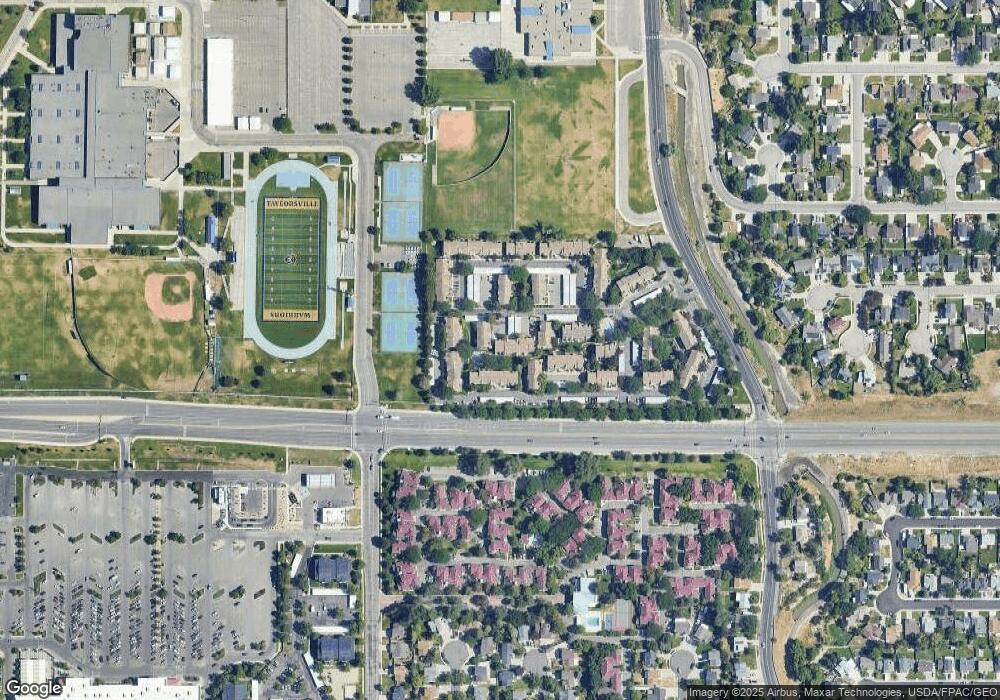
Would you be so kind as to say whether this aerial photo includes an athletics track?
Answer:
Yes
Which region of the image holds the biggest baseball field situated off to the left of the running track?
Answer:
left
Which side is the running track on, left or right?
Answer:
left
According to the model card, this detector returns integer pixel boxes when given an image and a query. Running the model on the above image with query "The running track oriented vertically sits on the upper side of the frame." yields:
[244,160,338,359]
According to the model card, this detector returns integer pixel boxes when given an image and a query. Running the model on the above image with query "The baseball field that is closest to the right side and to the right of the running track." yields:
[437,102,509,185]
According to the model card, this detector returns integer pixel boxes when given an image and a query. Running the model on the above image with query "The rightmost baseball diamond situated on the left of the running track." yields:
[146,271,194,335]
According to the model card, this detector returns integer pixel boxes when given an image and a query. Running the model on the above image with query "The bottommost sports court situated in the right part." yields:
[601,599,632,631]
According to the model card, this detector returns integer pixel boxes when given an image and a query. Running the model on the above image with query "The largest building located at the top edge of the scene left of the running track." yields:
[29,14,179,243]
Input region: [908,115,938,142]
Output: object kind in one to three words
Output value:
house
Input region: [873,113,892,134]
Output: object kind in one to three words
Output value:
house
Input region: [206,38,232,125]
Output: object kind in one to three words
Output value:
building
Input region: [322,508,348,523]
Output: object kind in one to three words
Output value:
building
